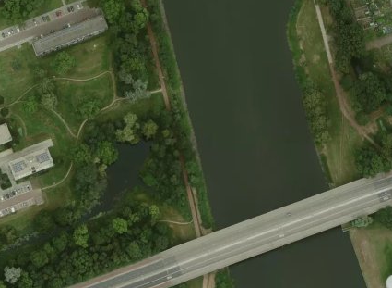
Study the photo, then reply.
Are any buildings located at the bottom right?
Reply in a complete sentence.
No, no building is visible at the bottom right.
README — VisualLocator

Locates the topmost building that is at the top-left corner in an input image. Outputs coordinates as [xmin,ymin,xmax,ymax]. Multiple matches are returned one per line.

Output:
[32,16,107,57]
